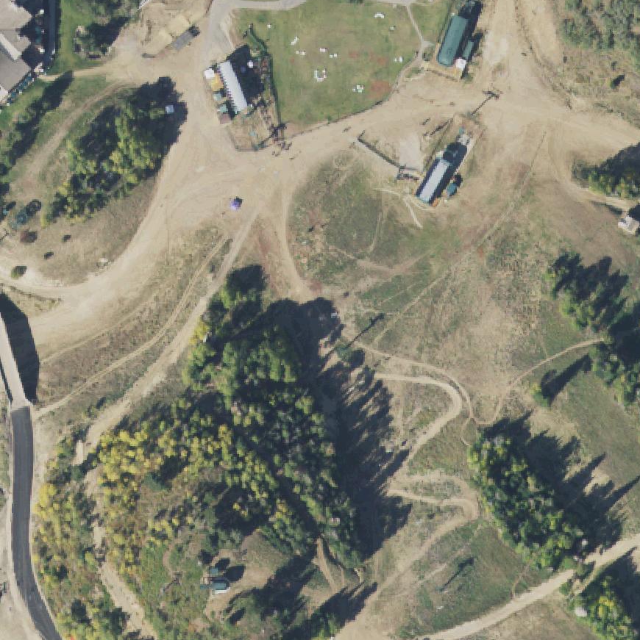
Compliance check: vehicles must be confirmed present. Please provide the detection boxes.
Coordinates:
[174,30,196,48]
